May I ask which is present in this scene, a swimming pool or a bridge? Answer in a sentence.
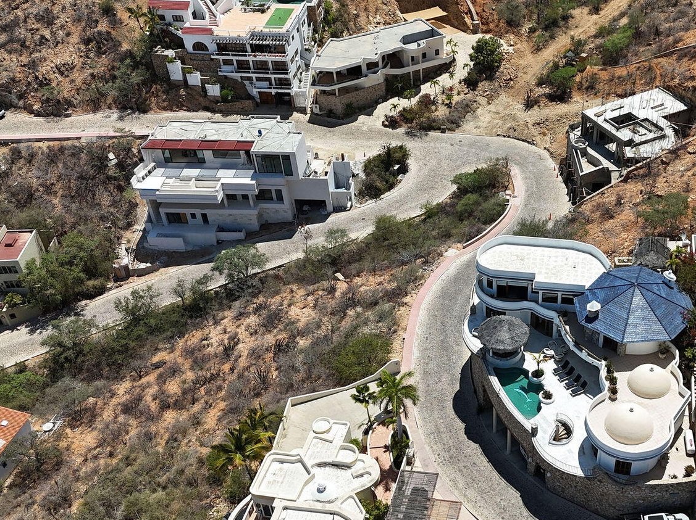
It is a swimming pool that can be seen here.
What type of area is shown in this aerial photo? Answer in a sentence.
This looks like a residential area.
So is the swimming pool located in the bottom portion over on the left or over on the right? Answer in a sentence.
The swimming pool located in the bottom portion appears in the right half of the scene.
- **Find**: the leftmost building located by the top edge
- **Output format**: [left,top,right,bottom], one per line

[149,0,322,115]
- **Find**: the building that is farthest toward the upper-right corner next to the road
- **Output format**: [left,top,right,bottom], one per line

[556,85,689,212]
